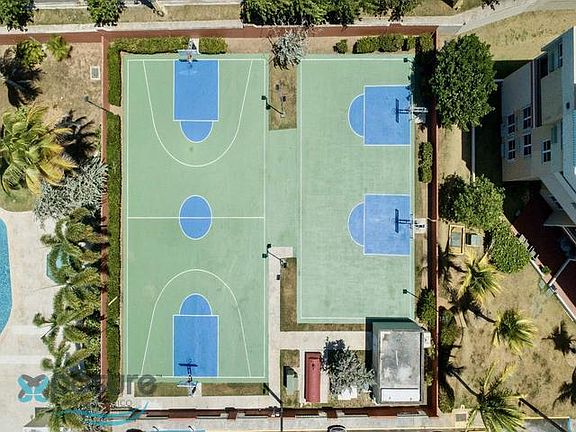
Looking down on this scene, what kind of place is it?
sports ground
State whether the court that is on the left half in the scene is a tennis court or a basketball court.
basketball court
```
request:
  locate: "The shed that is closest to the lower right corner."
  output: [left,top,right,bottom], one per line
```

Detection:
[373,323,426,406]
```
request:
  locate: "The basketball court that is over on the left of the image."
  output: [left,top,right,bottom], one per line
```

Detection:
[123,53,297,383]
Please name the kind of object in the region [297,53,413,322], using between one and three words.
basketball court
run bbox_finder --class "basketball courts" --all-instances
[297,53,413,322]
[123,53,297,383]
